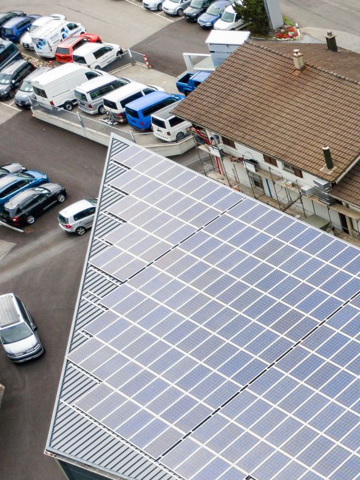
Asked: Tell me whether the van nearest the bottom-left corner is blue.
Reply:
No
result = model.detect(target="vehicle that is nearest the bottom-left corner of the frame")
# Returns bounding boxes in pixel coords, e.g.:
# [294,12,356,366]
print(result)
[0,299,43,365]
